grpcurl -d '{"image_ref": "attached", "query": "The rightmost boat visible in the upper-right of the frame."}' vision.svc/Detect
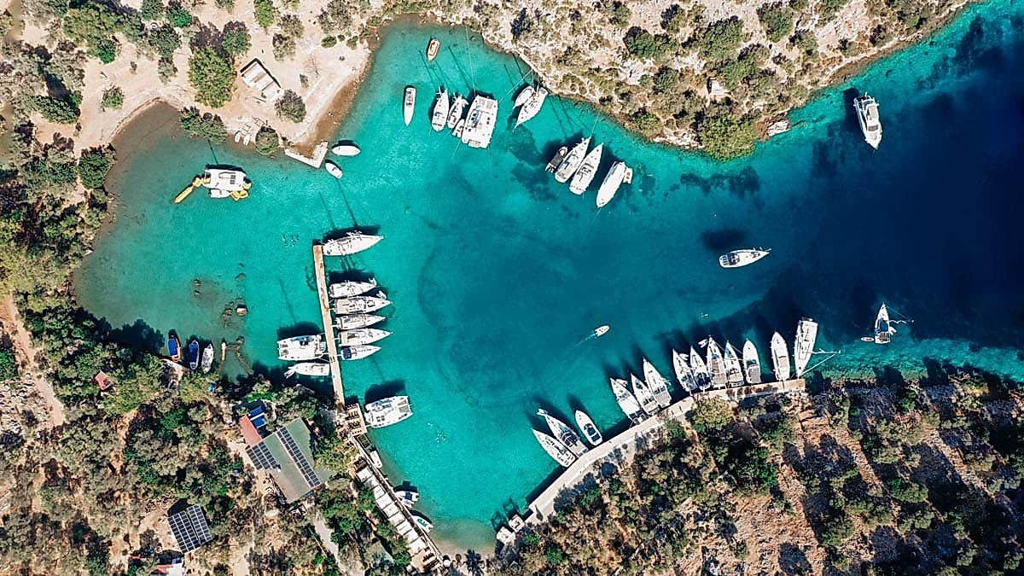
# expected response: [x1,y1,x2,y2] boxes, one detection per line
[855,93,879,149]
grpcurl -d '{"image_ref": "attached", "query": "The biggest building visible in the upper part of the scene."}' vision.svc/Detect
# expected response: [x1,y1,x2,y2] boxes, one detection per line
[241,61,284,102]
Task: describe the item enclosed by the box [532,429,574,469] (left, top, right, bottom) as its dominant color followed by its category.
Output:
white boat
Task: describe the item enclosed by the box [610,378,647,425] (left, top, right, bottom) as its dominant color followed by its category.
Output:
white boat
